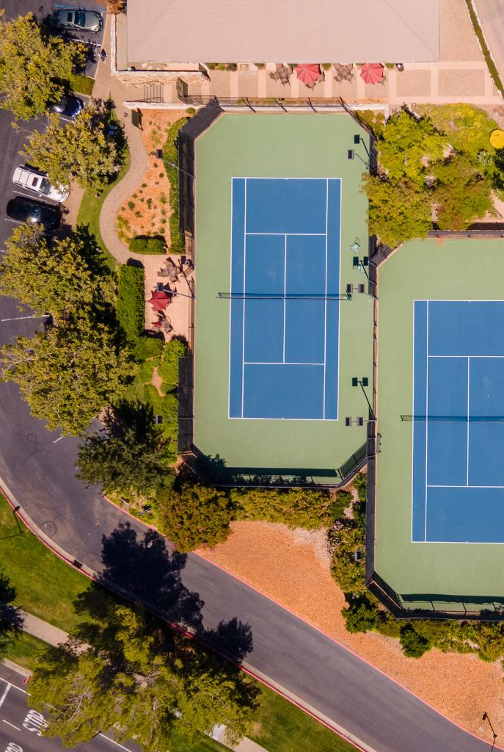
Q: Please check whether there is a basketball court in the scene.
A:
No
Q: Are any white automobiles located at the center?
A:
No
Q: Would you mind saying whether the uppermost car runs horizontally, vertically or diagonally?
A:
horizontally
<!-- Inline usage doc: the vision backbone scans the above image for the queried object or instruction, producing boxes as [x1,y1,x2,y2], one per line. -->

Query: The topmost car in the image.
[53,9,104,36]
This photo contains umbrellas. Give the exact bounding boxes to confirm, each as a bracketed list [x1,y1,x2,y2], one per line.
[154,318,170,330]
[361,62,385,85]
[296,62,321,87]
[152,290,174,312]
